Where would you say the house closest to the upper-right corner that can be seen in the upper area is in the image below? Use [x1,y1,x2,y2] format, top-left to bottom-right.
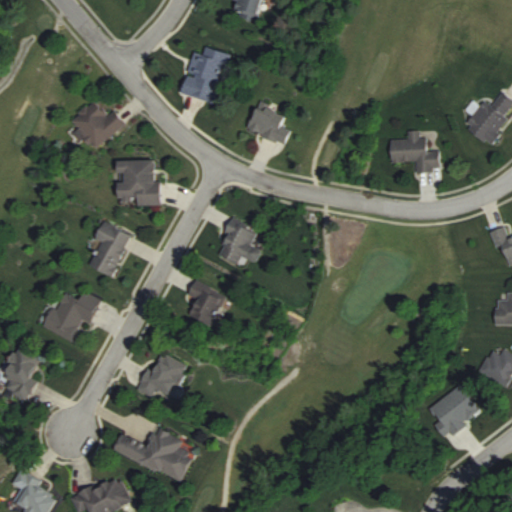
[467,88,512,144]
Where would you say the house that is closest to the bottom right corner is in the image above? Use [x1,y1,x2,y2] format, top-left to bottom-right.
[430,388,476,437]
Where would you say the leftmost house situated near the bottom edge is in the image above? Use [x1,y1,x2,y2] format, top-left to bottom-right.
[13,471,55,512]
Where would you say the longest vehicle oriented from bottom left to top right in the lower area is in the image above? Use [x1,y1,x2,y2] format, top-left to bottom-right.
[82,438,94,454]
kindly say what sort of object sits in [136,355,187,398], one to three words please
house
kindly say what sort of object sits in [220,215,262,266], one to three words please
house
